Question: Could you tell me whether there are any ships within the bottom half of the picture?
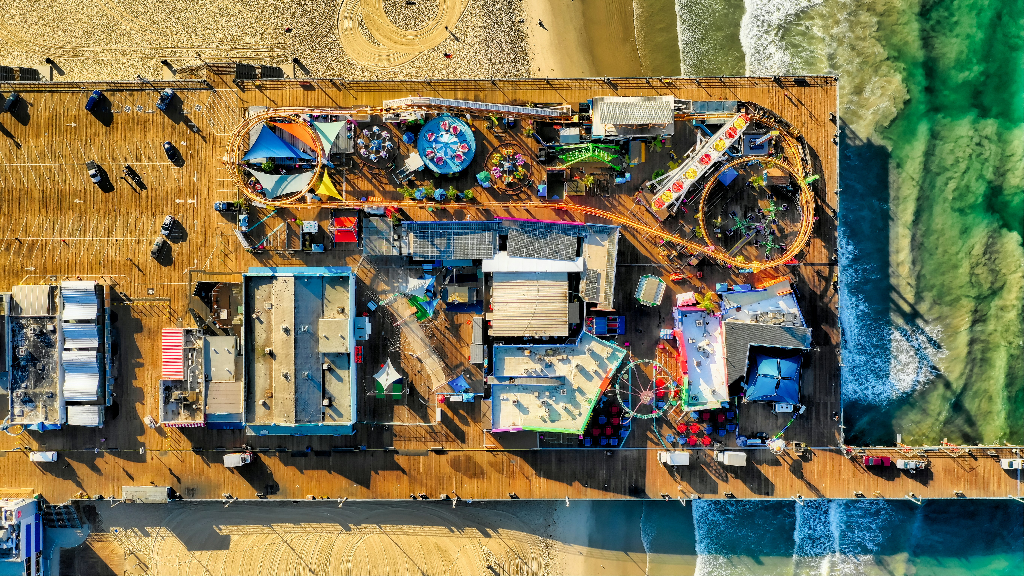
No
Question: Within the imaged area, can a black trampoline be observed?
No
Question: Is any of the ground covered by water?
Yes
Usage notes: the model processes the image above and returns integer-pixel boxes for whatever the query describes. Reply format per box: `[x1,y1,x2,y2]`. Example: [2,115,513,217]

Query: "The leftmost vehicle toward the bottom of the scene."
[30,451,59,463]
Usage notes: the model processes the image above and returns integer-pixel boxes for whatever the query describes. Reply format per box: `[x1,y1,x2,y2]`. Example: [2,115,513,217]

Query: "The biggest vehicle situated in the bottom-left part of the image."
[221,449,259,467]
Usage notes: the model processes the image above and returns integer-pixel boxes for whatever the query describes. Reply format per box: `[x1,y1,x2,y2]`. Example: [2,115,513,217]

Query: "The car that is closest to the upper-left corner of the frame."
[1,91,21,115]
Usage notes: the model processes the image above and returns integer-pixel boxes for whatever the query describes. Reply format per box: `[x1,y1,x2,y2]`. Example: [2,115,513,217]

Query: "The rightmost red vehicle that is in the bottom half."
[862,455,890,467]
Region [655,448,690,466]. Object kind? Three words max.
vehicle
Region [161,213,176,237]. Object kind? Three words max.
car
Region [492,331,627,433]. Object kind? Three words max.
building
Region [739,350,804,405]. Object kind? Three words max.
tent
